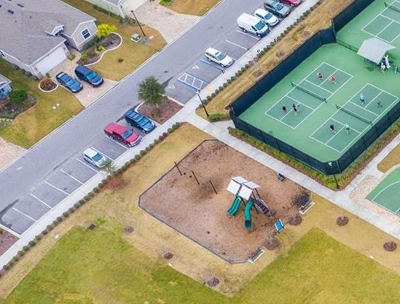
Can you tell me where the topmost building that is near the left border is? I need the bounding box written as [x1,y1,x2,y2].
[0,0,102,77]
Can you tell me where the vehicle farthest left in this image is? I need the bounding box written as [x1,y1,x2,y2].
[54,70,81,92]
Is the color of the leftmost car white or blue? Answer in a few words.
blue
